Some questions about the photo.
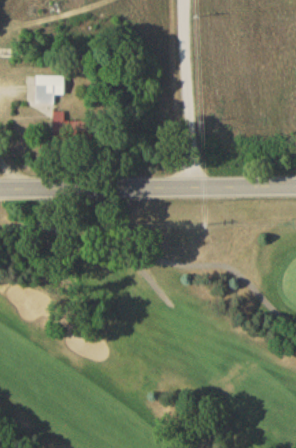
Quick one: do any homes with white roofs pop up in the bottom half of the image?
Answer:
No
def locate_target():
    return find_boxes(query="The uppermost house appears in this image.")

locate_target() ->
[35,74,64,103]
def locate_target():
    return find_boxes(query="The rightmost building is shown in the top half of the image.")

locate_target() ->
[53,111,80,132]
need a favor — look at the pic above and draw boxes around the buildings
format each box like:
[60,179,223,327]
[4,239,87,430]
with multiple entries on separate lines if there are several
[35,74,64,103]
[53,111,80,132]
